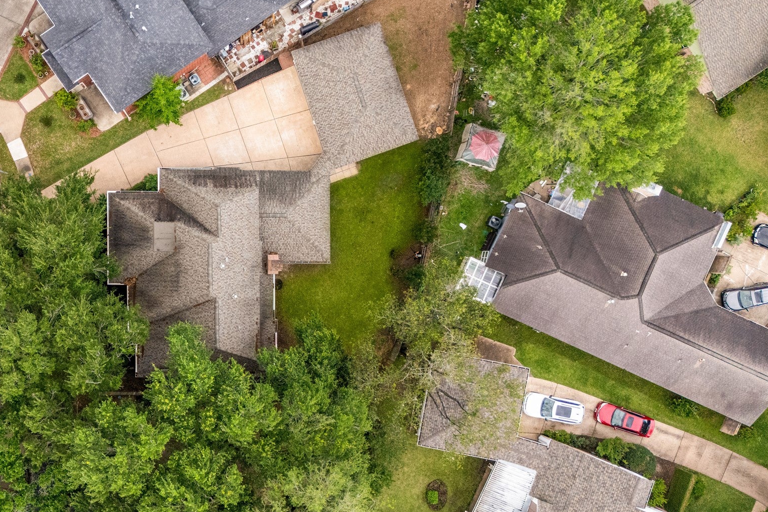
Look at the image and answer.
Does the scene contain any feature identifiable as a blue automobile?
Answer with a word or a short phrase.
No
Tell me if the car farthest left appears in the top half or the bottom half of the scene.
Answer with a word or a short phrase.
bottom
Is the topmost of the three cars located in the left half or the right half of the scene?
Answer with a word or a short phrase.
right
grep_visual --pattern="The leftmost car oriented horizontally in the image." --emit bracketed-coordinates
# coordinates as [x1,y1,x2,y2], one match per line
[523,393,586,426]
